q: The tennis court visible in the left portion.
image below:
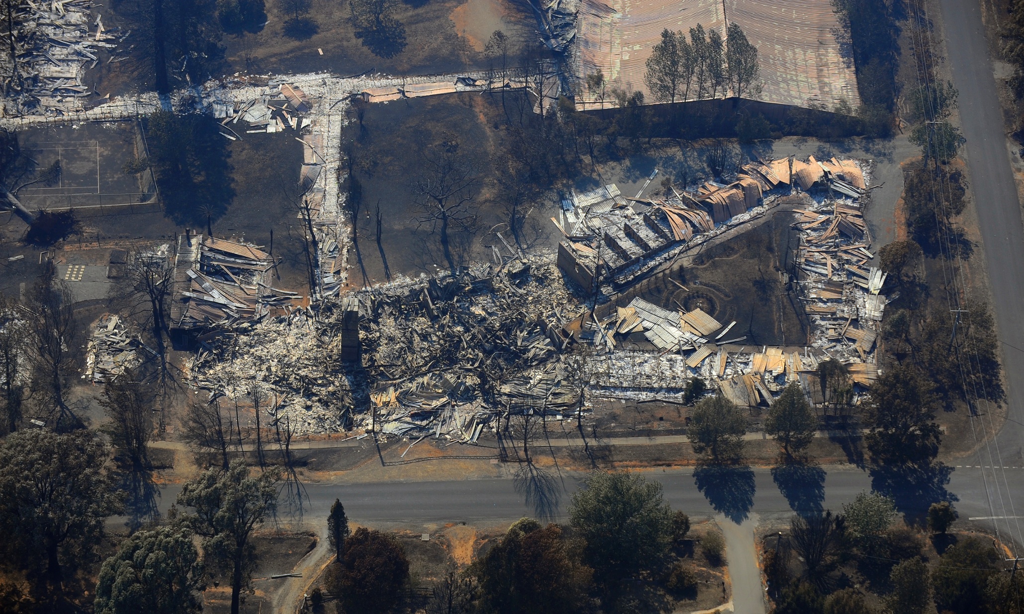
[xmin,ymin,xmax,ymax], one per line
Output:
[0,130,144,204]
